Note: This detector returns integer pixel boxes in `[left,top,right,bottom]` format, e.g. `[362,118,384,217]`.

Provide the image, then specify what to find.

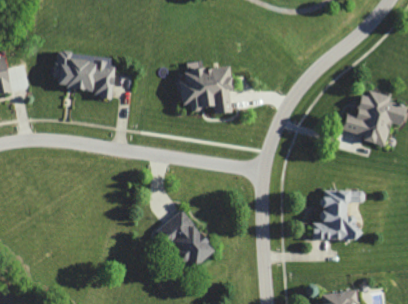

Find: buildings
[345,90,408,145]
[148,213,215,268]
[179,60,234,114]
[0,51,11,94]
[314,188,368,244]
[323,290,359,304]
[55,50,116,106]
